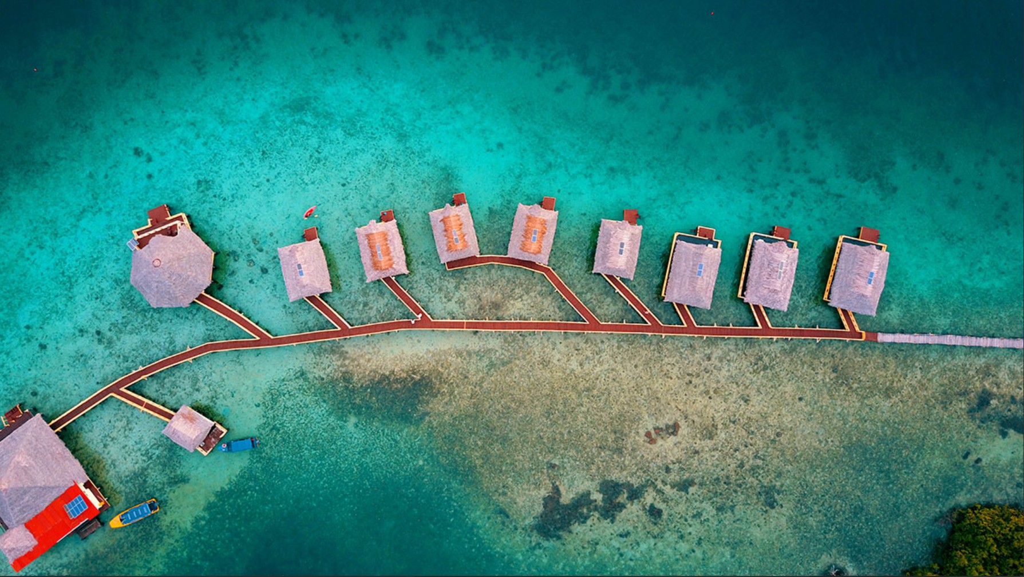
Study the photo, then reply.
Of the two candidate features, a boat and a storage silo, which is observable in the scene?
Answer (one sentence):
Of the two, only a boat appears.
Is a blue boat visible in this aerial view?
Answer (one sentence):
Yes, looking at the shot, I can spot a blue boat.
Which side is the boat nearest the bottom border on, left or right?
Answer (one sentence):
It is on the left.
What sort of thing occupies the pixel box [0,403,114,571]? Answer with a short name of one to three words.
building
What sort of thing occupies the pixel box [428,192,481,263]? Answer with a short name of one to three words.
shed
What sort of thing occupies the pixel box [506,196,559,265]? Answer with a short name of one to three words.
shed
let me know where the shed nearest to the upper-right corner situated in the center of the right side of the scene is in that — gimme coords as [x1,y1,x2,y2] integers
[817,226,890,317]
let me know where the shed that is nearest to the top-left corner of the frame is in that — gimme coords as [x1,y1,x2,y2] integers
[128,203,223,310]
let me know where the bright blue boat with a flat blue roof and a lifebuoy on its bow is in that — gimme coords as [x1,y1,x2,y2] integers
[216,436,259,454]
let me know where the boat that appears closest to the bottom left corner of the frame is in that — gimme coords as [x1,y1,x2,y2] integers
[106,499,160,530]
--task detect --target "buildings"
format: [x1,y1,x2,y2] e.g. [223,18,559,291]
[817,226,890,317]
[355,209,410,283]
[734,225,799,312]
[161,403,235,456]
[276,226,334,302]
[428,192,481,263]
[506,196,559,265]
[0,403,114,571]
[128,203,223,310]
[592,209,643,280]
[660,226,723,311]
